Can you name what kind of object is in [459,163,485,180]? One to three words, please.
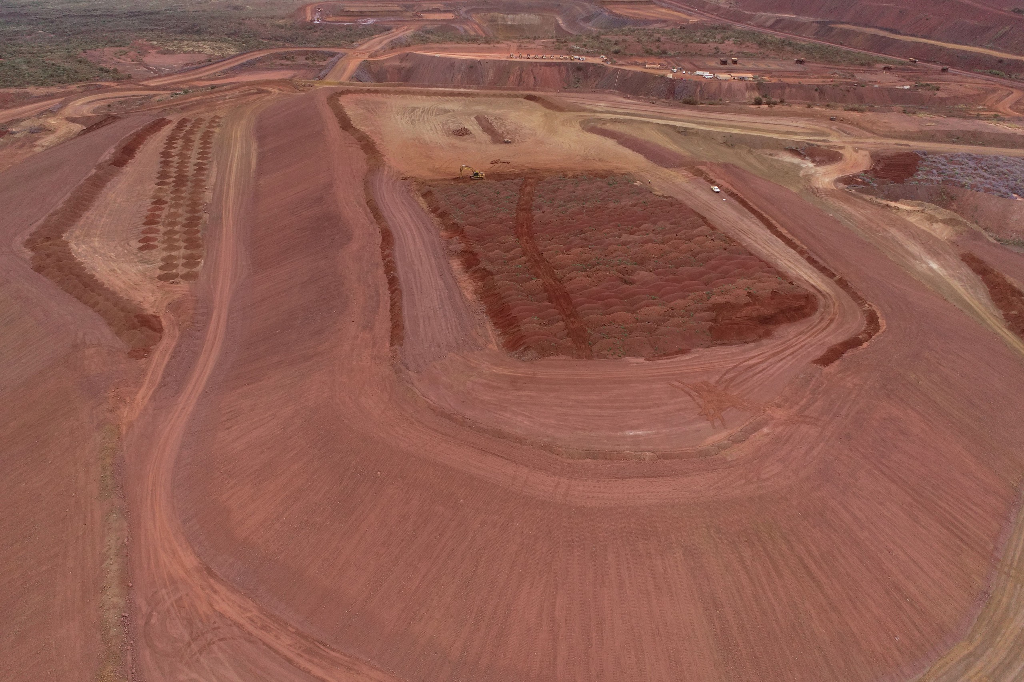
work vehicle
